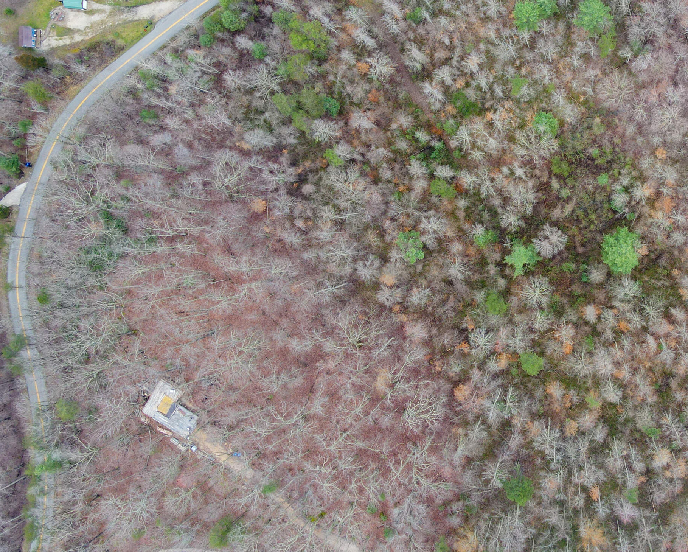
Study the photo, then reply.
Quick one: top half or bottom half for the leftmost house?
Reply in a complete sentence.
The leftmost house is in the top half of the image.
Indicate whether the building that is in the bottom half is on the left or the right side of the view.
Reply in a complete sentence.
You can find the building that is in the bottom half on the left side of the picture.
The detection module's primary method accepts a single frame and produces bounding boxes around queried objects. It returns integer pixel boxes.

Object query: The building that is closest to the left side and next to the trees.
[17,24,44,49]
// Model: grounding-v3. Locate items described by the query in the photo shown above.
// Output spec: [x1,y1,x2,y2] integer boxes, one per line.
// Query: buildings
[17,24,44,49]
[142,382,198,438]
[61,0,93,12]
